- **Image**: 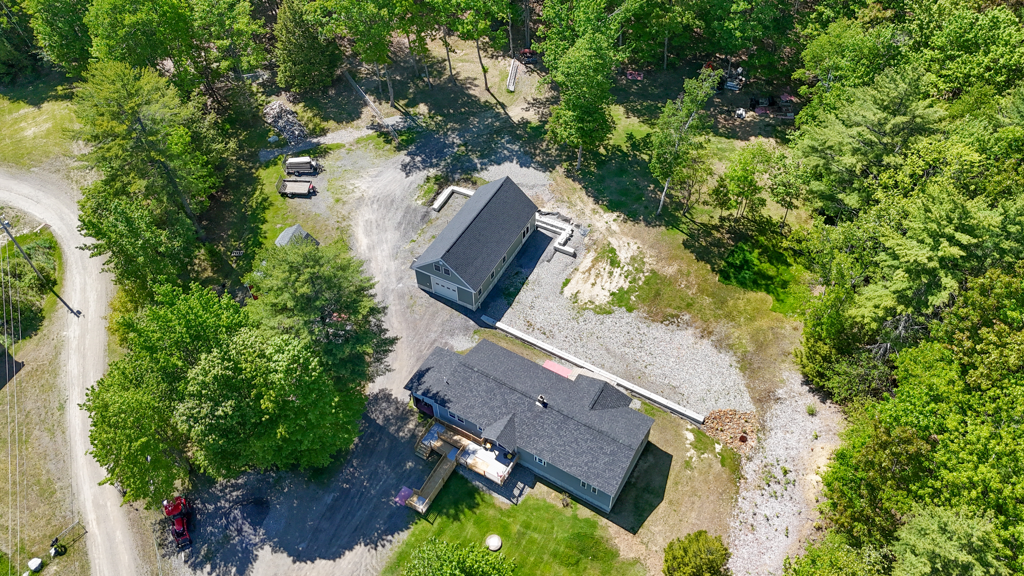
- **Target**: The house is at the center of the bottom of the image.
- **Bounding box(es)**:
[402,339,655,513]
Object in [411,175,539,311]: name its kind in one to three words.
building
